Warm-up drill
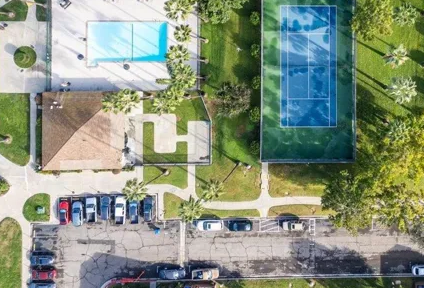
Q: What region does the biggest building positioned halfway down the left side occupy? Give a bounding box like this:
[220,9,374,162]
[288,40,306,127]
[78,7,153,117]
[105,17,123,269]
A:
[42,91,128,170]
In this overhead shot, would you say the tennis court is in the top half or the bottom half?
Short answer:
top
